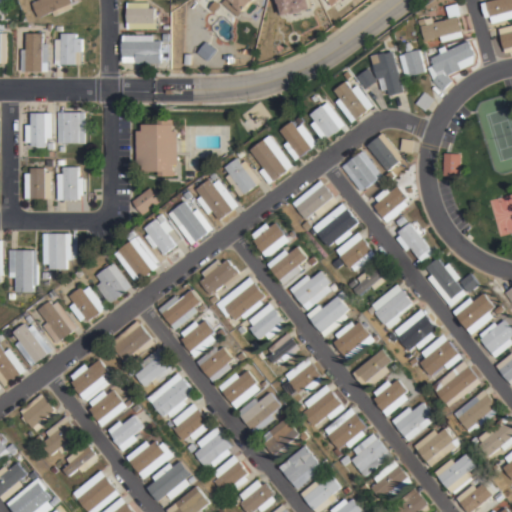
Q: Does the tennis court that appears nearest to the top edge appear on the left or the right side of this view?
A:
right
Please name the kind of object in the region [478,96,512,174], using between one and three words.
tennis court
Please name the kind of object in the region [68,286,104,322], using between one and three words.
house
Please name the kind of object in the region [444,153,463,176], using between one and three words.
building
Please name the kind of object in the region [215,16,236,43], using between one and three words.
swimming pool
